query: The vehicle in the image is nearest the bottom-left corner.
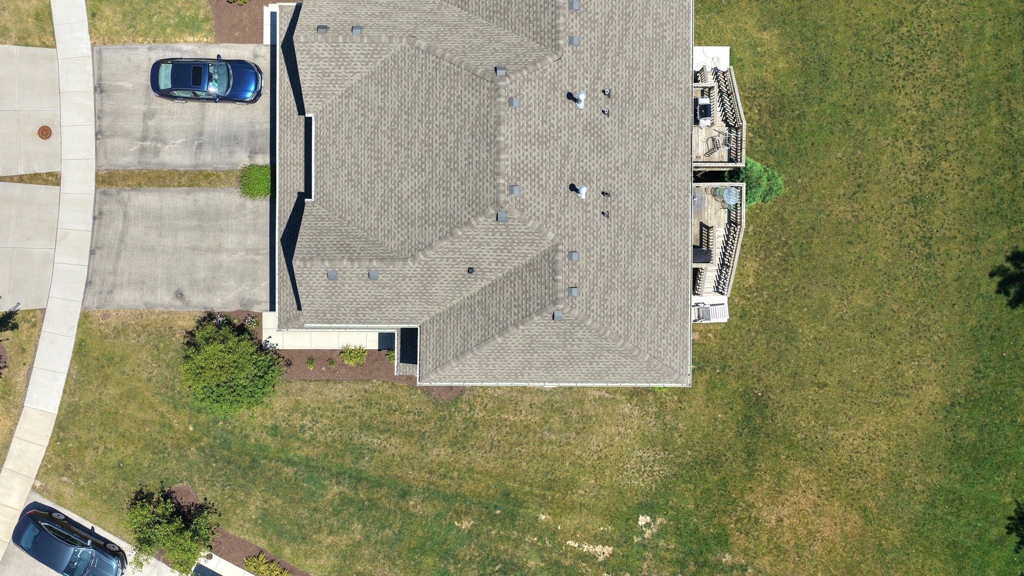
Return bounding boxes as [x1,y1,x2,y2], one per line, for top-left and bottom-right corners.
[12,509,128,576]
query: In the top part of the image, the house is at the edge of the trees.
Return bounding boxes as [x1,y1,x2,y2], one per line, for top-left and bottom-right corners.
[276,0,694,386]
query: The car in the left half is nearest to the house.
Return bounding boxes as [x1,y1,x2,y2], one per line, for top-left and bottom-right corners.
[149,53,266,105]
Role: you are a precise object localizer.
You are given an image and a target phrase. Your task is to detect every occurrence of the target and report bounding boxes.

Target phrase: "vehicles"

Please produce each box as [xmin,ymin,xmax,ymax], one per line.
[149,53,266,105]
[12,509,128,576]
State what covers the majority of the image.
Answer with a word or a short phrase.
grass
